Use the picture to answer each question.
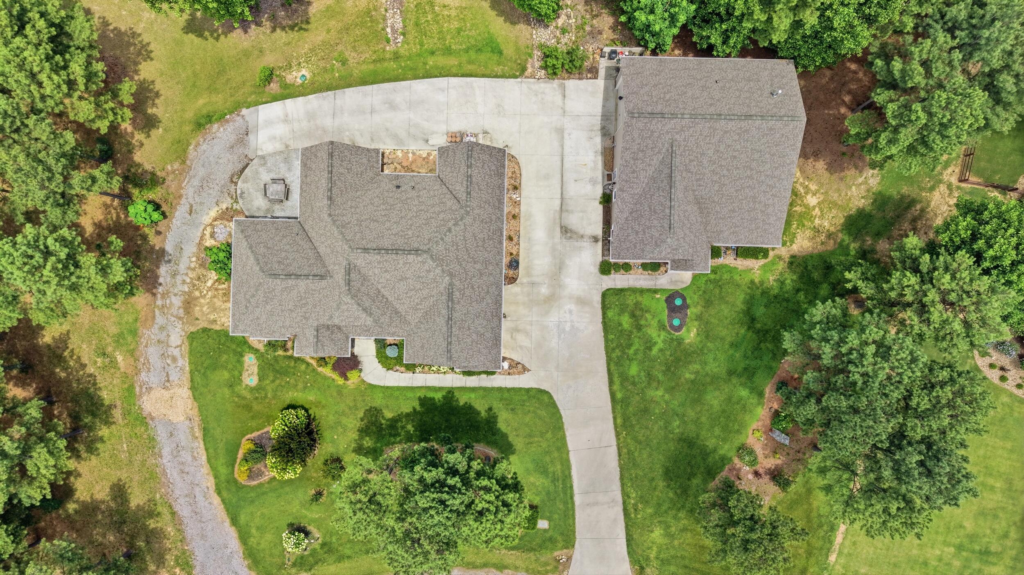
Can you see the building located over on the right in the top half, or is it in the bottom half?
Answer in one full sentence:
It is in the top half that the building located over on the right appears.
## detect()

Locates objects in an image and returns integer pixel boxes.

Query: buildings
[602,56,806,273]
[230,141,507,372]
